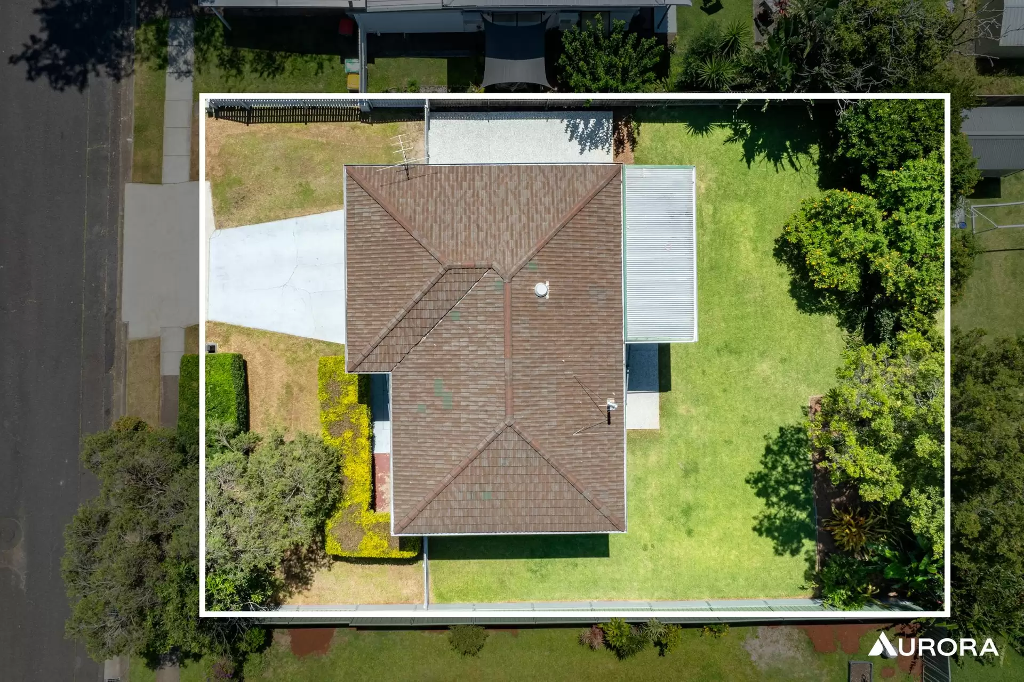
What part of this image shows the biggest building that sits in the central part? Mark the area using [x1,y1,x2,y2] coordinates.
[342,160,628,537]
